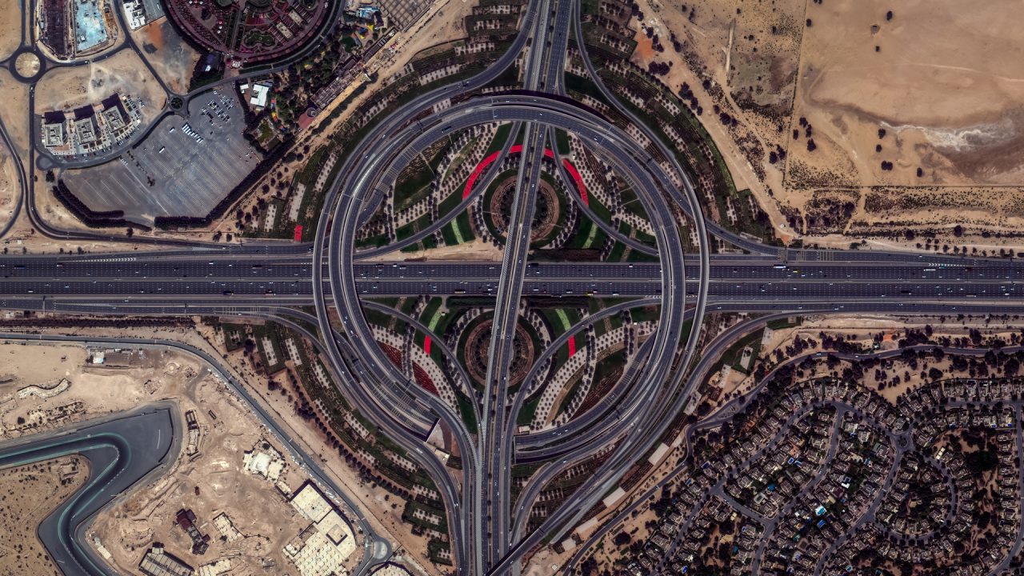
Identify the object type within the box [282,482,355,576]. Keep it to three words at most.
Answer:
building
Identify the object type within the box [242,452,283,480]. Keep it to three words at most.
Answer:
building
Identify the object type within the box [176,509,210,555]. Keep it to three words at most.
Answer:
house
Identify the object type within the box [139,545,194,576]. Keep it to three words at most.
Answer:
shed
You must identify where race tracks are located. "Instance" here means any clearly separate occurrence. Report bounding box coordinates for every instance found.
[0,394,187,576]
